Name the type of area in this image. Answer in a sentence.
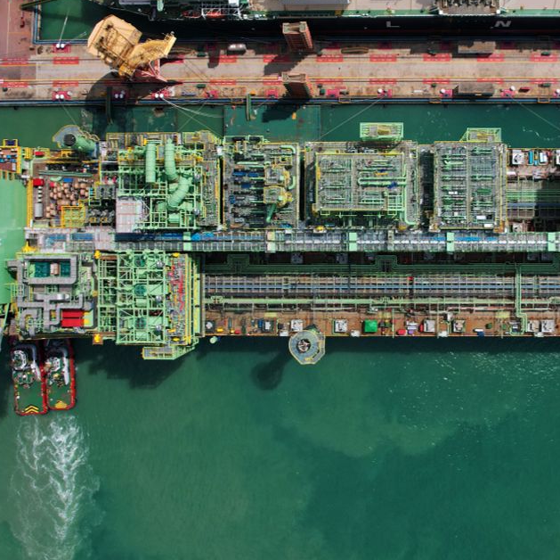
The picture captures a port.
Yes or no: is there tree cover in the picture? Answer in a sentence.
No, no tree cover is visible.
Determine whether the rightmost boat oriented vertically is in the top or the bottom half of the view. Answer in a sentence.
The rightmost boat oriented vertically sits in the bottom half of the picture.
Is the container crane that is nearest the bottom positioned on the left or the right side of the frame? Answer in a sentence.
It is on the left.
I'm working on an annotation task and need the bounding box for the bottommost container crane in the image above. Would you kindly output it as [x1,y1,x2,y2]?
[88,14,177,85]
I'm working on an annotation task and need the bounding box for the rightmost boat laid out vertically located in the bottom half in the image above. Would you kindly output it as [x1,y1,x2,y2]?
[43,338,79,411]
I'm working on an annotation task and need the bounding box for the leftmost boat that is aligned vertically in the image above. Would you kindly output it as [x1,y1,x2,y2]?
[12,338,49,416]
